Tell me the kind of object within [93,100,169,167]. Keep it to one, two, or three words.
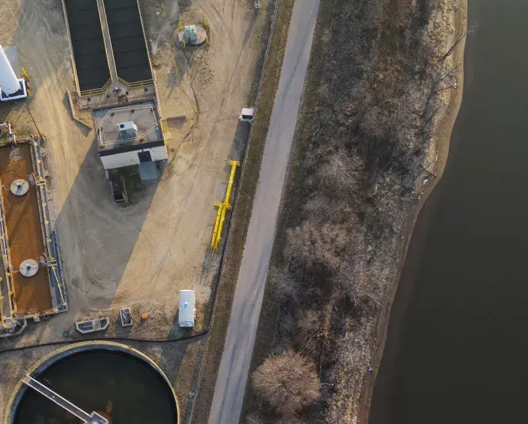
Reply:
building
